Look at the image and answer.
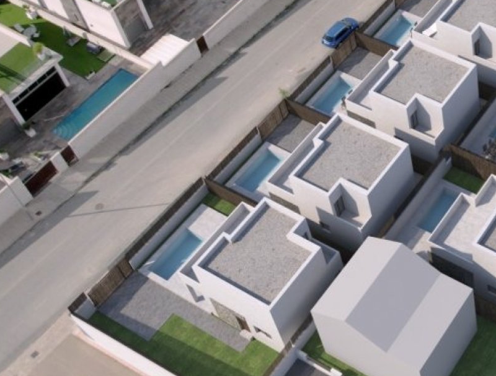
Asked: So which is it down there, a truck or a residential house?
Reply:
residential house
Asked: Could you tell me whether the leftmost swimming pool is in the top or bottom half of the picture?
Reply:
top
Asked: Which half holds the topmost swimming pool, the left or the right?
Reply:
right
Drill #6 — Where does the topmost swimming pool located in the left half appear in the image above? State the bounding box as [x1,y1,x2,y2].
[48,67,142,142]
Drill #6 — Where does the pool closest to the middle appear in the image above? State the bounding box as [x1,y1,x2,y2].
[230,145,292,198]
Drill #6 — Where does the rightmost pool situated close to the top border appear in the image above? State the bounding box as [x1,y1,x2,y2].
[374,10,423,49]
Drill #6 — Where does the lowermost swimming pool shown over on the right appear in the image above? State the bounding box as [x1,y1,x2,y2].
[403,197,454,258]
